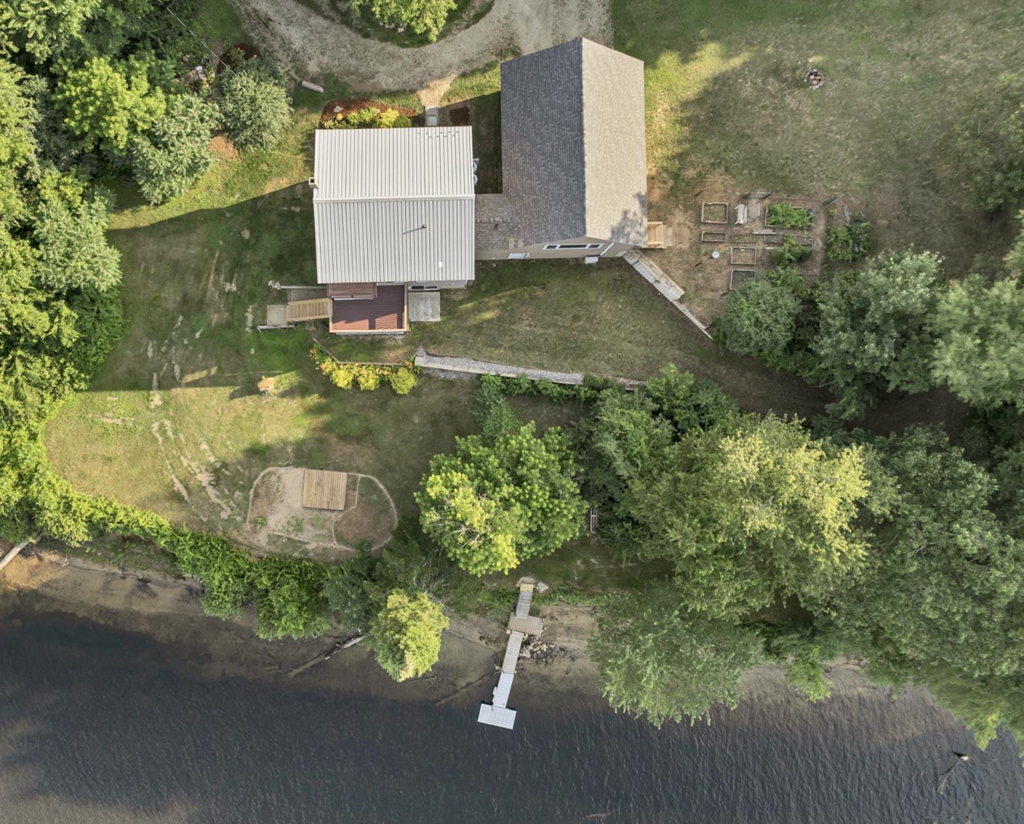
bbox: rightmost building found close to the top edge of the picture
[496,38,649,259]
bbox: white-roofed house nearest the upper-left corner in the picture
[308,127,476,289]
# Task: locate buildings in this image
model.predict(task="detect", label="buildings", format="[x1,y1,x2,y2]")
[308,127,476,289]
[496,38,649,259]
